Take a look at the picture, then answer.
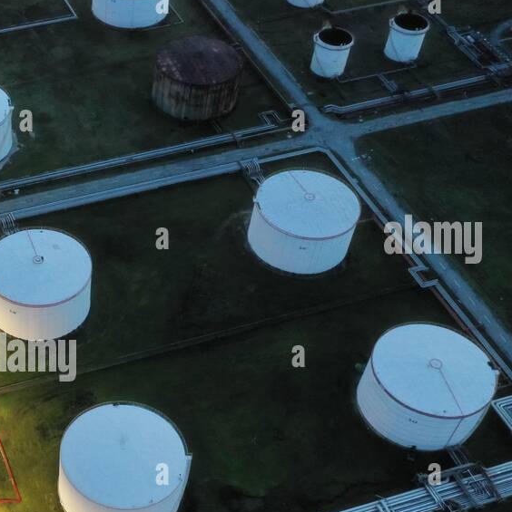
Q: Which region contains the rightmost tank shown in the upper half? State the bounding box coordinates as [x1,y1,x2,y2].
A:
[379,9,431,64]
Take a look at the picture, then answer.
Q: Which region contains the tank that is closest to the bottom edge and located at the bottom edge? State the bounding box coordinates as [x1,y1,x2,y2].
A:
[55,398,196,512]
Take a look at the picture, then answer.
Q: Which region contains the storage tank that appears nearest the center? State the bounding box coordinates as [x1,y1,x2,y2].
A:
[246,166,362,276]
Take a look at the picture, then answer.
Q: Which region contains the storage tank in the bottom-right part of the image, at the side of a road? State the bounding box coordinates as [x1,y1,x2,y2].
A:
[354,319,498,452]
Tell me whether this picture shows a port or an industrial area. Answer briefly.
industrial area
